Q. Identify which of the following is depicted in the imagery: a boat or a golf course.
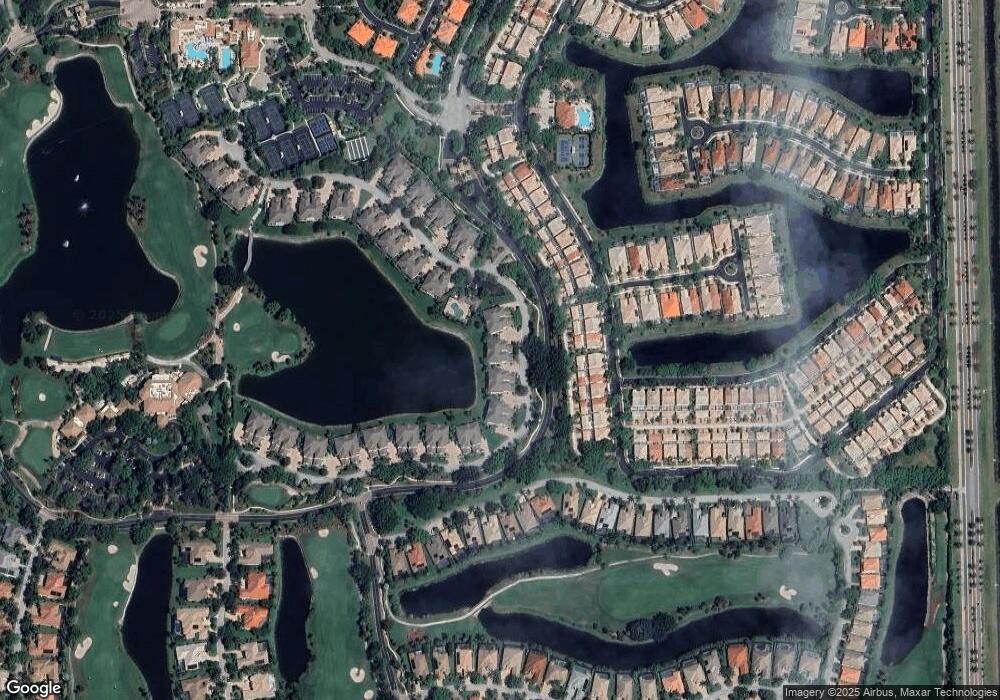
golf course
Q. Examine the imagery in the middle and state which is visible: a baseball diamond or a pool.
pool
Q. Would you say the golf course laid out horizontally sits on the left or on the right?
right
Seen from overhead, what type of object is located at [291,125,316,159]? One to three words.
tennis court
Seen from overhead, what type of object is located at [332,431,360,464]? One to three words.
house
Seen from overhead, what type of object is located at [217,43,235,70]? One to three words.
swimming pool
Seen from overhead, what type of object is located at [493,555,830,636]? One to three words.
golf course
